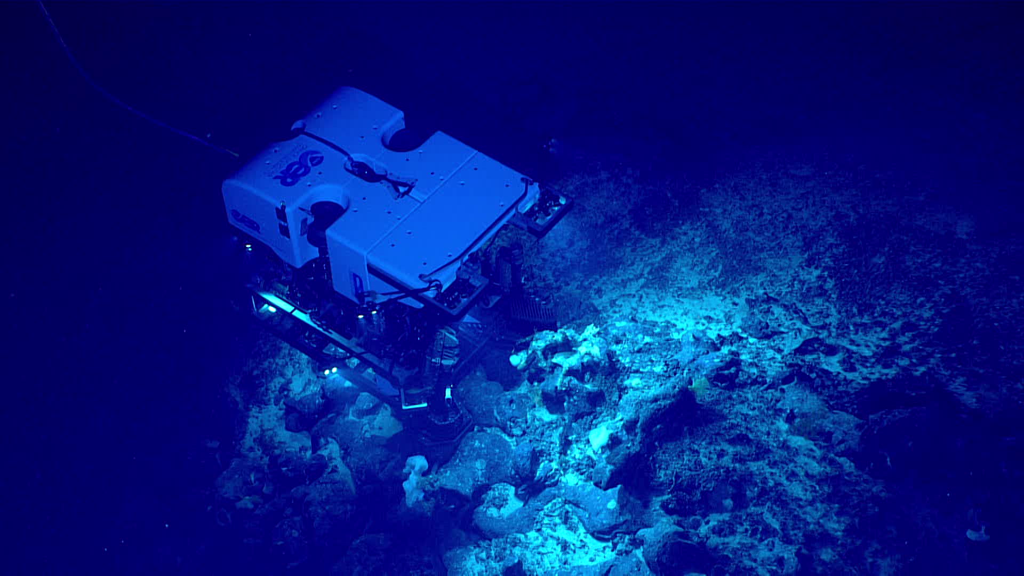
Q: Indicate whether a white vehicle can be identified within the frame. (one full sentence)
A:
No, there's no white vehicle here.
